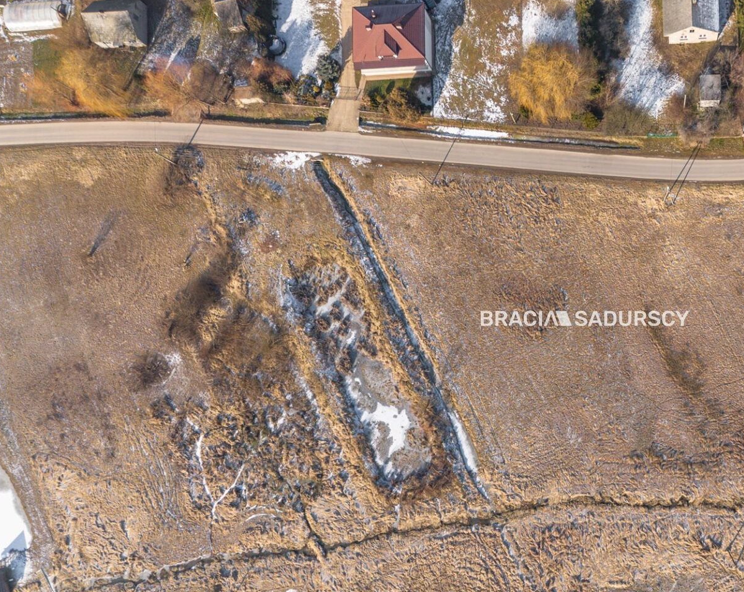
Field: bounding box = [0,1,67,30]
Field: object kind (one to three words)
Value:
greenhouse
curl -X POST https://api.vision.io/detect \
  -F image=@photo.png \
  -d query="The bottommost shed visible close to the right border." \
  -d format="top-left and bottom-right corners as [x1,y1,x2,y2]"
[698,74,722,111]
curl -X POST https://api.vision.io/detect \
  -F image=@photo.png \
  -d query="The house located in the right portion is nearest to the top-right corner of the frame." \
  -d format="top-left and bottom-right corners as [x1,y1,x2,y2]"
[663,0,726,45]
